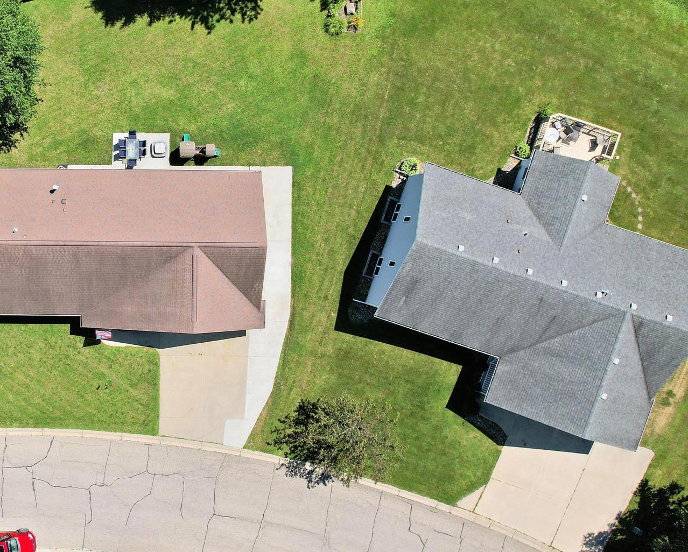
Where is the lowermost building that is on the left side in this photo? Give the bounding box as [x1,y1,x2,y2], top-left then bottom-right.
[0,166,267,333]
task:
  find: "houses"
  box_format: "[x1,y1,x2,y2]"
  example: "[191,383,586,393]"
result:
[346,149,688,453]
[0,166,267,333]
